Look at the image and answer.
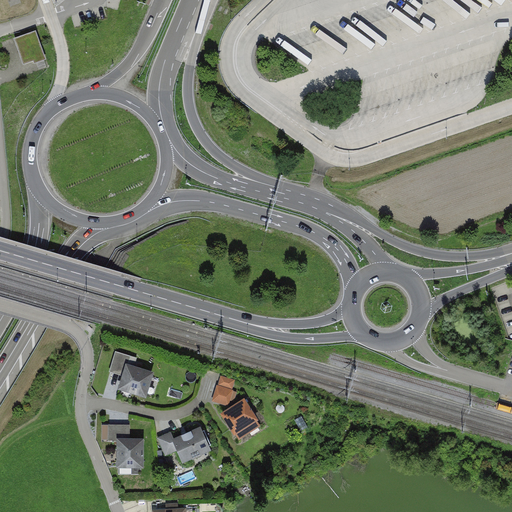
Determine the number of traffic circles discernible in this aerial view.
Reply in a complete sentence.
The number of traffic circles here is 2.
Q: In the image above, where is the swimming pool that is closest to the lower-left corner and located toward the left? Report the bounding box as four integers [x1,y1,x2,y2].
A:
[177,470,196,486]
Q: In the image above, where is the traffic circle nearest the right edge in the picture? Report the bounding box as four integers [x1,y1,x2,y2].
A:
[342,262,430,350]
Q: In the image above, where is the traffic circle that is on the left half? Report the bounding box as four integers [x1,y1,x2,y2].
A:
[25,84,172,232]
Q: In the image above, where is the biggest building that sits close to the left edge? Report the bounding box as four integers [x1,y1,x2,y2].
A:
[14,31,48,69]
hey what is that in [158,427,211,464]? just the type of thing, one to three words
house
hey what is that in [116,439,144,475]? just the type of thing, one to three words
house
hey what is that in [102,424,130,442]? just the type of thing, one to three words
building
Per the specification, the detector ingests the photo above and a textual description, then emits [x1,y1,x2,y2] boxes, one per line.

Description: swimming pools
[177,470,196,486]
[168,388,183,400]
